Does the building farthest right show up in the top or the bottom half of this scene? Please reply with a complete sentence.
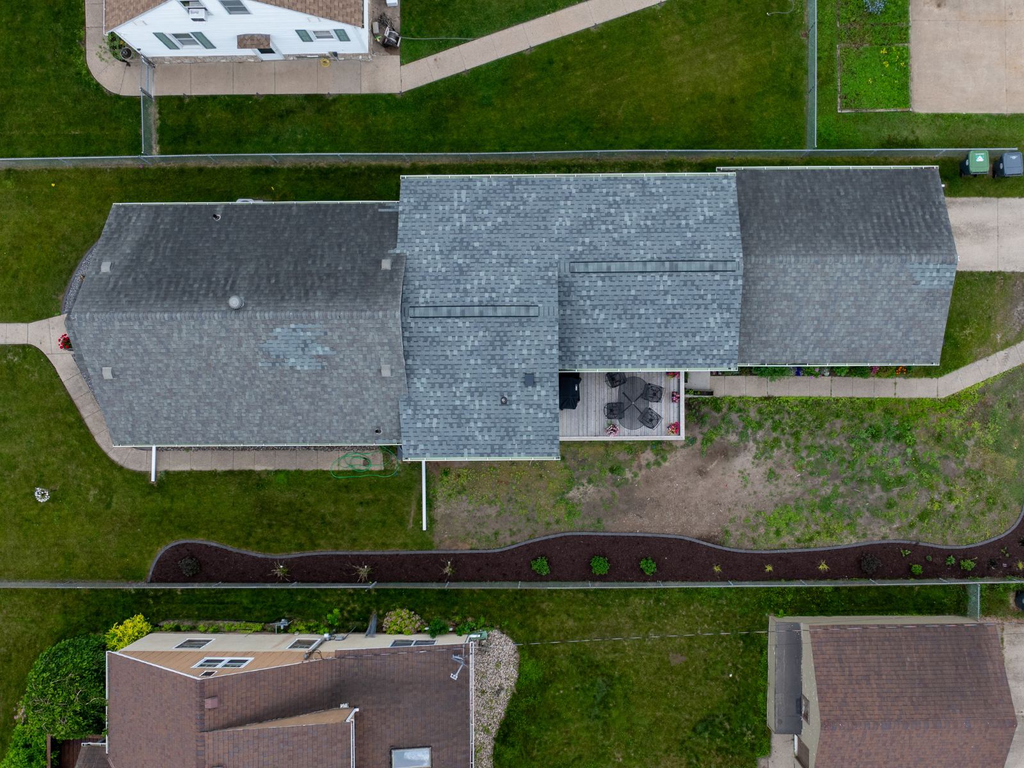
The bottom half of the photo is where the building farthest right is.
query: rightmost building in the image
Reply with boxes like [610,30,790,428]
[786,614,1017,768]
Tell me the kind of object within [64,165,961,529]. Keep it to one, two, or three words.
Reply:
house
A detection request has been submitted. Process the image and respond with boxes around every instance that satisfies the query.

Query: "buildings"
[64,165,961,529]
[76,620,477,768]
[786,614,1017,768]
[103,0,374,64]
